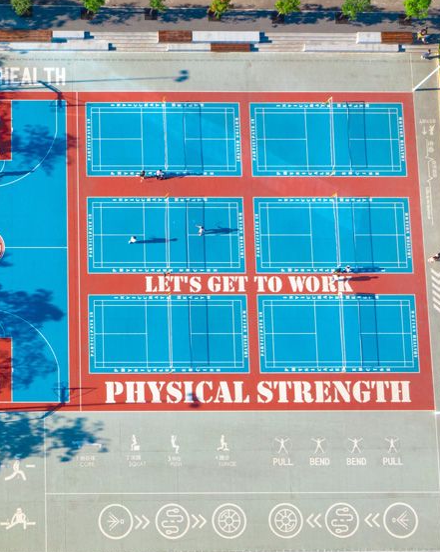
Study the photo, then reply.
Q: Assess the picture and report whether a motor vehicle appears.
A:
No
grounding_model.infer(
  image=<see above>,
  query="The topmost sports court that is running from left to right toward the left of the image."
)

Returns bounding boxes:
[86,103,242,177]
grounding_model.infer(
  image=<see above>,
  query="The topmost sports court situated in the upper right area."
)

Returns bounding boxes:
[249,103,408,177]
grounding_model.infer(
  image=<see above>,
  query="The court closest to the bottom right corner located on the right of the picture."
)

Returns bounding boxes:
[257,294,420,374]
